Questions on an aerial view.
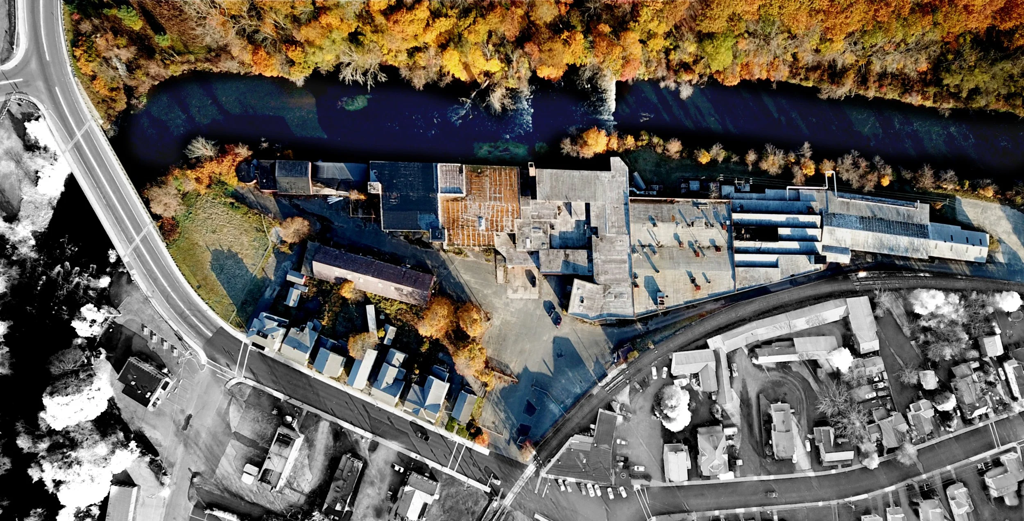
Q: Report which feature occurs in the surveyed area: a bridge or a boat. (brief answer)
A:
bridge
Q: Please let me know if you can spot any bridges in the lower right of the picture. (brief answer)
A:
No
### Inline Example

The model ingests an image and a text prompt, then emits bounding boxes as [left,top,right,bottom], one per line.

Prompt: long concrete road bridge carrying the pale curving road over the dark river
[44,119,172,274]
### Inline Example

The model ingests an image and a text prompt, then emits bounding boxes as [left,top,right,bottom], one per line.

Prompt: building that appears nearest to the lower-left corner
[106,484,141,521]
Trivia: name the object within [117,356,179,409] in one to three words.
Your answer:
building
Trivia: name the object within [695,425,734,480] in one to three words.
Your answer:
house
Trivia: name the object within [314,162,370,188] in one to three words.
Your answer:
shed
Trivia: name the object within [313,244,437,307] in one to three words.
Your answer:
barn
